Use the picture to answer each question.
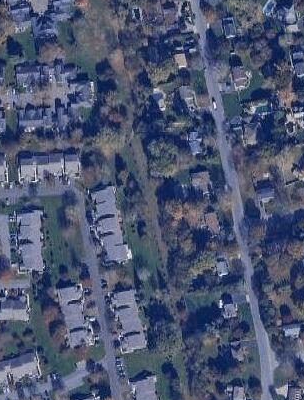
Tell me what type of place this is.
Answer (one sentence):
It's a residential area.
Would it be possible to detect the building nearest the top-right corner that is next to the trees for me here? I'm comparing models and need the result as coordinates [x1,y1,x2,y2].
[279,5,297,29]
